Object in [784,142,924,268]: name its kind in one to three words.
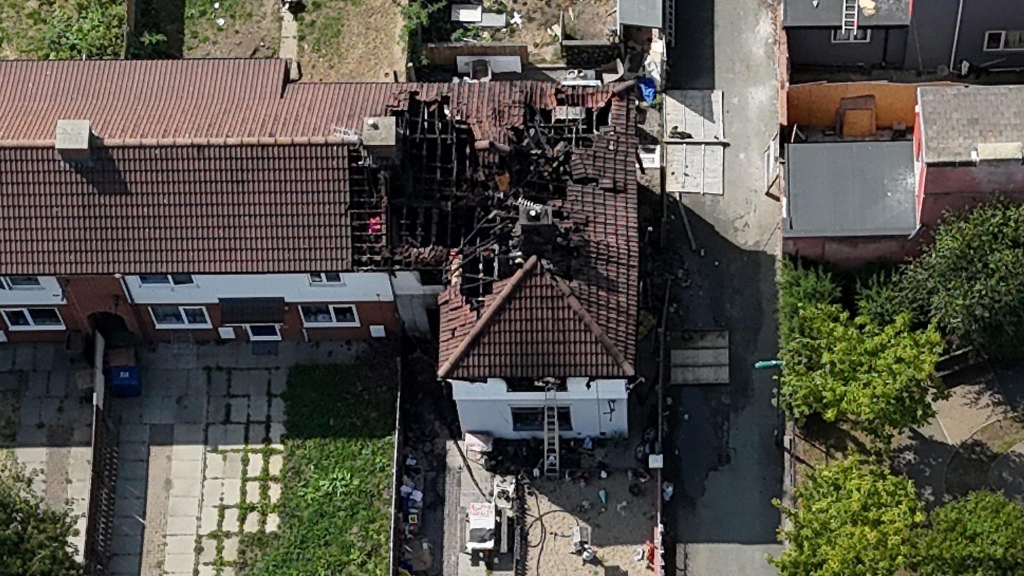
building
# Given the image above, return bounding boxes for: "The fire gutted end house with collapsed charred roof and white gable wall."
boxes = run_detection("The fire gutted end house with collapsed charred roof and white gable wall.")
[351,48,642,437]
